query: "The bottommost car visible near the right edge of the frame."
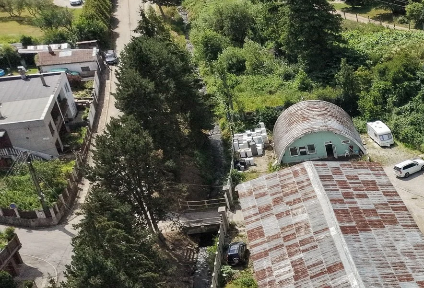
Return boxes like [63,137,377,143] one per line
[391,156,424,176]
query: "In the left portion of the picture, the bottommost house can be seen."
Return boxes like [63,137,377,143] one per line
[0,71,76,162]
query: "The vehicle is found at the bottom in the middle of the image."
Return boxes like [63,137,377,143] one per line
[225,239,245,262]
